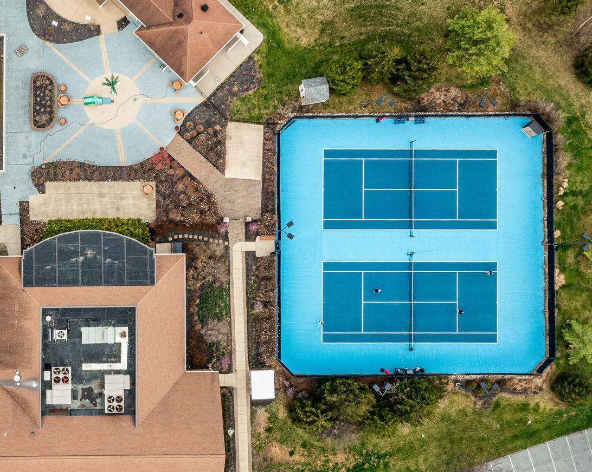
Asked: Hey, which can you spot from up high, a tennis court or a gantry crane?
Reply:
tennis court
